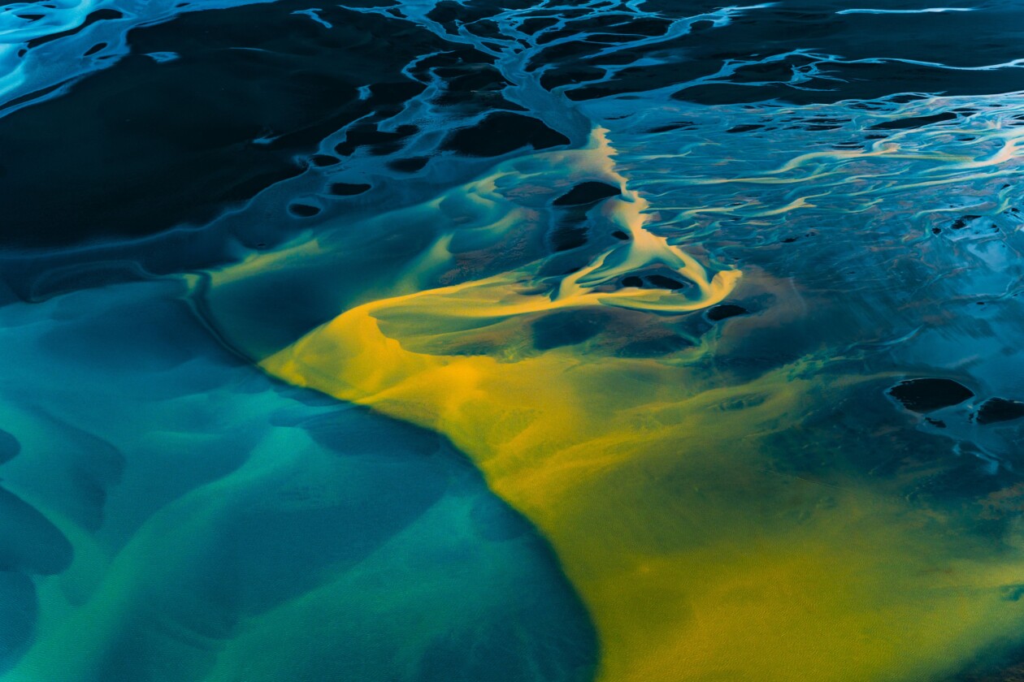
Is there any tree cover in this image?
No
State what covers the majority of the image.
water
